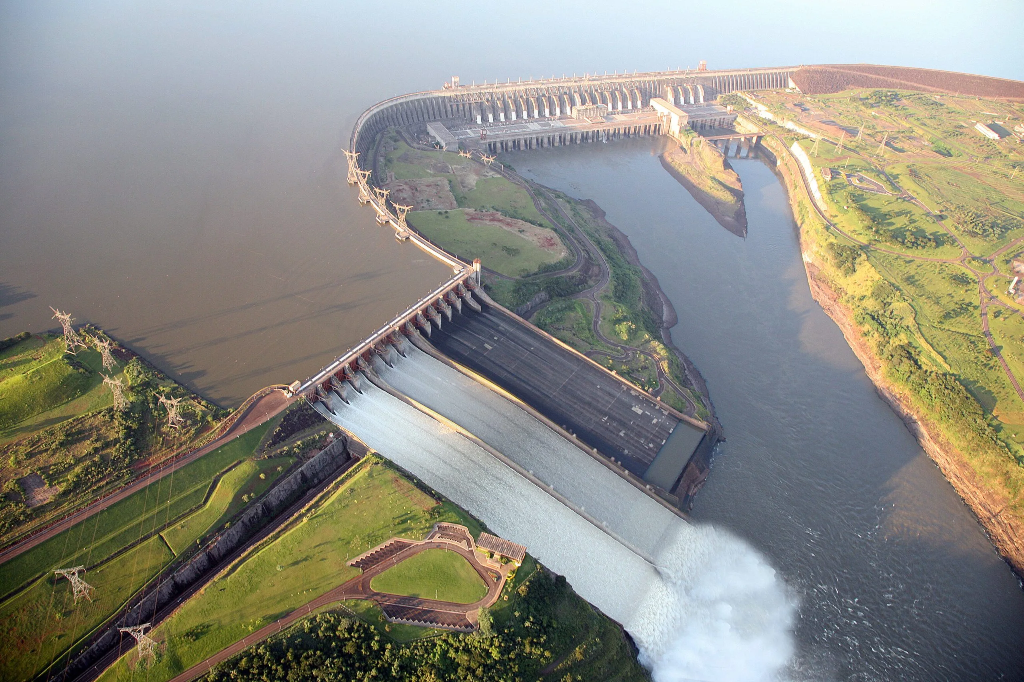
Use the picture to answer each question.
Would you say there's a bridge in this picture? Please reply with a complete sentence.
Yes, the picture does show a bridge.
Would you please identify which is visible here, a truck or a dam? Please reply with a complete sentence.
The one in the frame is a dam.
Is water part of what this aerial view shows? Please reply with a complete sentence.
Yes, there is water in the image.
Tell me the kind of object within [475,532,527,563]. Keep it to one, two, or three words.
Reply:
building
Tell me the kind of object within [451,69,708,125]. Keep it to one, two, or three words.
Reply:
dam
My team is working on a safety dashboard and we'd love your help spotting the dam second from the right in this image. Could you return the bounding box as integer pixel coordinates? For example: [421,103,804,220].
[697,63,812,99]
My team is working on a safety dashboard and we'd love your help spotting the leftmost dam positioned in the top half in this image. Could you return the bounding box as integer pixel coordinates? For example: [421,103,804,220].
[348,87,473,272]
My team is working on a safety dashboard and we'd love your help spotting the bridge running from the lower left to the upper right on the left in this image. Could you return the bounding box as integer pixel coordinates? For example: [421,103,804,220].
[291,269,473,400]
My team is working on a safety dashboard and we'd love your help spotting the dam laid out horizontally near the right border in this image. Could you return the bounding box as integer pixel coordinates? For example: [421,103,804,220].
[802,63,1024,111]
